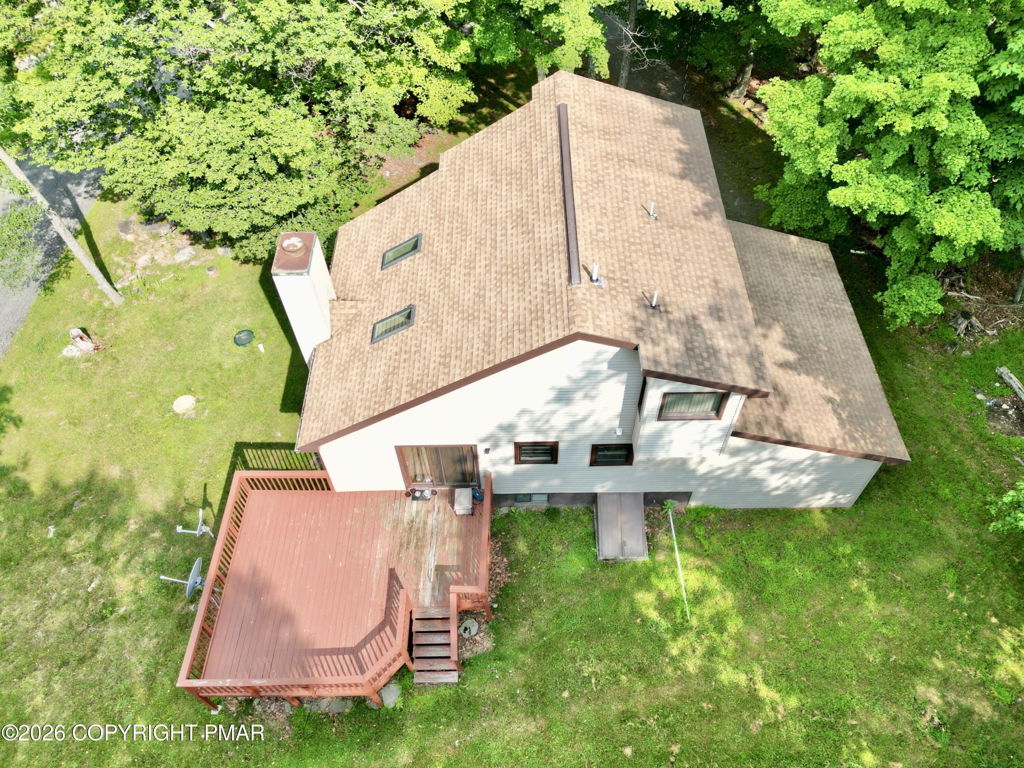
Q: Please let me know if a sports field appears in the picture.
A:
No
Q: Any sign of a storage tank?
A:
No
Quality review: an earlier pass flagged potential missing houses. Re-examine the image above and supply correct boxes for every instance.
[267,67,912,508]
